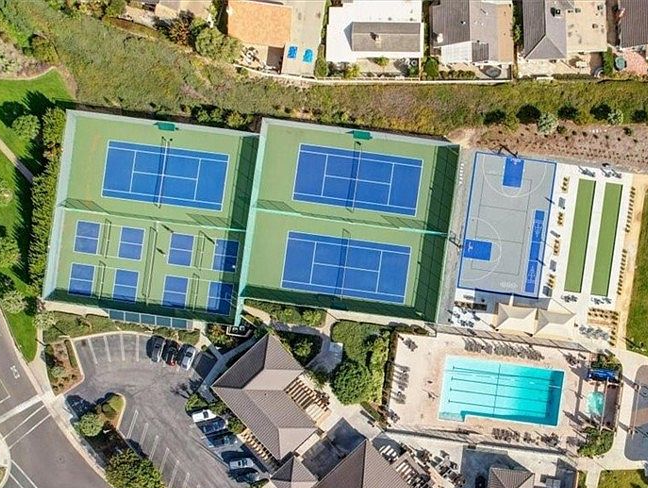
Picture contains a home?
Yes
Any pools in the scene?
Yes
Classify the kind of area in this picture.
sports ground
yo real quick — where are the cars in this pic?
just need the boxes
[199,420,227,433]
[150,339,167,365]
[180,345,198,370]
[191,409,218,422]
[165,341,180,367]
[210,434,237,446]
[230,457,256,469]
